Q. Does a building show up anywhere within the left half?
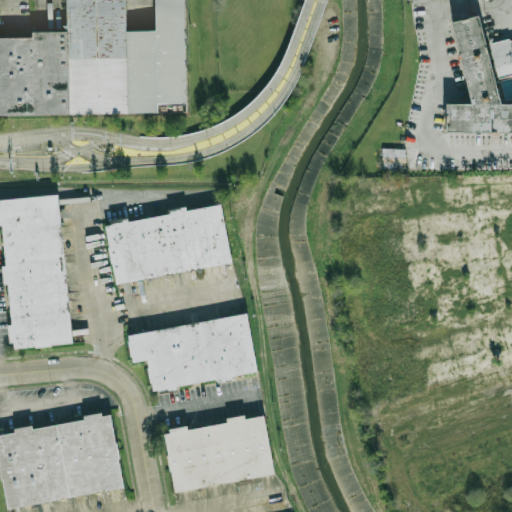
Yes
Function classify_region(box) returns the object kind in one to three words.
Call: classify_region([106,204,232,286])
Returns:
building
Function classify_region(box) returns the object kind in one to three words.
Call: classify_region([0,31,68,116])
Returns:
building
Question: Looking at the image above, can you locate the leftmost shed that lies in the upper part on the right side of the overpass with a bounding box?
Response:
[382,148,407,168]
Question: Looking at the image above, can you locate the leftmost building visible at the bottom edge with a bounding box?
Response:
[0,414,124,510]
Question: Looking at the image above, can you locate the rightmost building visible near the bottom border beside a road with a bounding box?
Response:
[165,416,274,494]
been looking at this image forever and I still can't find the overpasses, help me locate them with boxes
[138,0,328,167]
